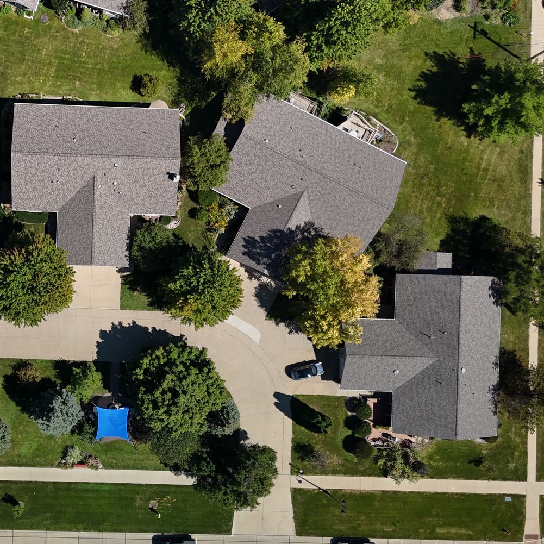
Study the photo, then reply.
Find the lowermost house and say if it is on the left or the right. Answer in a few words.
right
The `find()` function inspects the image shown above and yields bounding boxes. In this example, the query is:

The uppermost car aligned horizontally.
[290,362,324,380]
